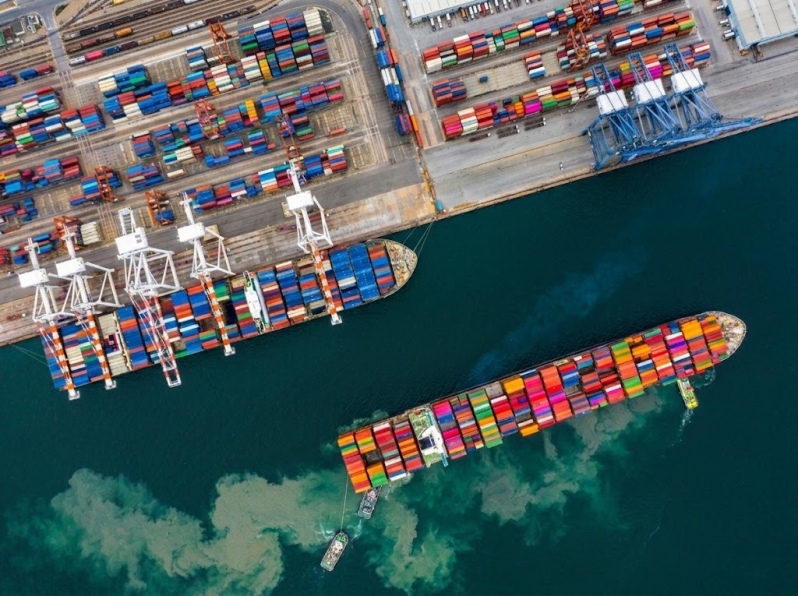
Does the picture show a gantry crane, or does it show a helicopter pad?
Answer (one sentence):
The image shows a gantry crane.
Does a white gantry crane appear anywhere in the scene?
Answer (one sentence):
Yes, the photo shows a white gantry crane.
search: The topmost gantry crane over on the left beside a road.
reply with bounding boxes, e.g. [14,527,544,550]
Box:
[210,20,241,65]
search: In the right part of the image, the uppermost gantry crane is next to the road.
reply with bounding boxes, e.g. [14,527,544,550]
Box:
[555,0,595,44]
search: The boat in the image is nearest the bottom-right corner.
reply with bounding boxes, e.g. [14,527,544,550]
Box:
[680,380,697,409]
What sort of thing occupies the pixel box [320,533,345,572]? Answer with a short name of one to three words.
boat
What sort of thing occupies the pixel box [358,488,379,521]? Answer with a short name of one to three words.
boat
